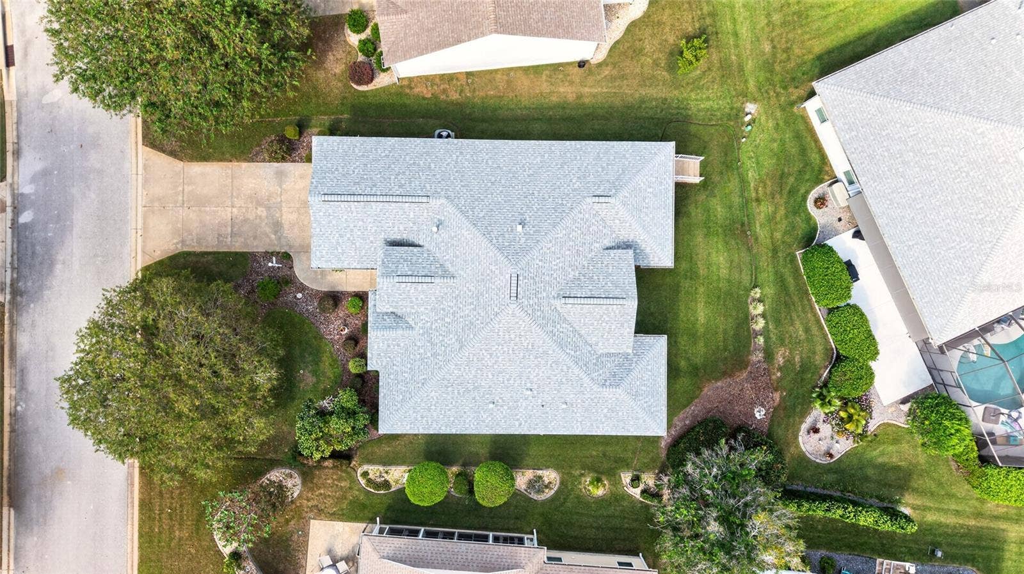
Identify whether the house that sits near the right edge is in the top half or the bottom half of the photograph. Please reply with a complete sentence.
The house that sits near the right edge sits in the top half of the picture.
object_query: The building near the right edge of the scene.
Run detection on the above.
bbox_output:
[793,0,1024,349]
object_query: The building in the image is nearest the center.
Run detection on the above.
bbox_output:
[306,135,677,438]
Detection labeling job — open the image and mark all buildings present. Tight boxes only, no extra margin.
[368,0,616,83]
[356,514,658,574]
[306,135,677,438]
[793,0,1024,349]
